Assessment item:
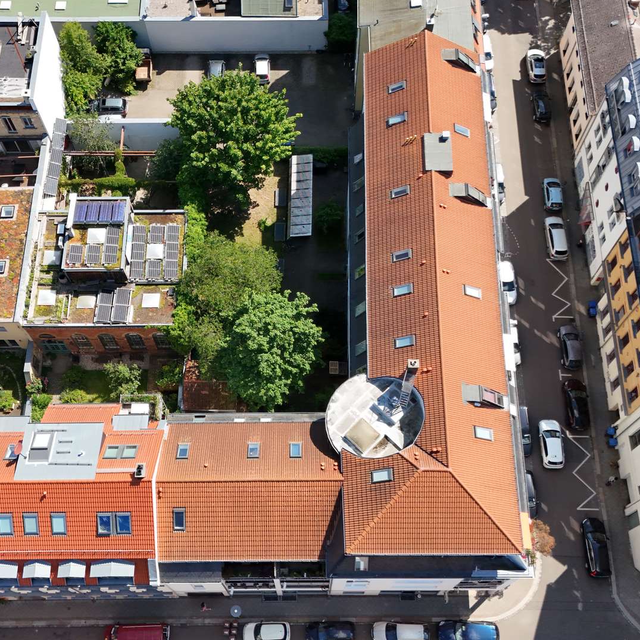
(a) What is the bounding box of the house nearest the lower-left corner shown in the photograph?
[0,392,172,598]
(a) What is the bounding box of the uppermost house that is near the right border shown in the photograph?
[551,0,640,149]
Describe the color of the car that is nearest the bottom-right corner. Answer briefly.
black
